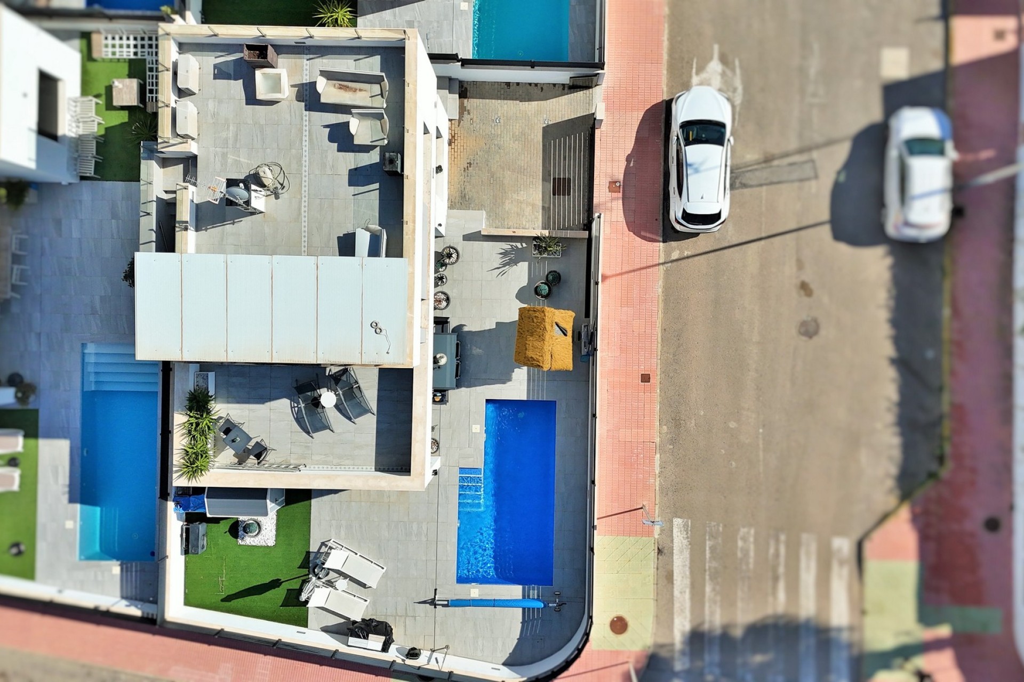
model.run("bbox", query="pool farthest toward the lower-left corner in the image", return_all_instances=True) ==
[77,342,158,562]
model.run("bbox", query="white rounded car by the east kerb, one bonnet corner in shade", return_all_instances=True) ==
[884,104,962,243]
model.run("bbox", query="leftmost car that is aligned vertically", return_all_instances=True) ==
[668,86,739,232]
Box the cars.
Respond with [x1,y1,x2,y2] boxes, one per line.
[884,104,962,243]
[668,86,739,232]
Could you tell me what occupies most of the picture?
paved ground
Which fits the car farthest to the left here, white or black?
white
